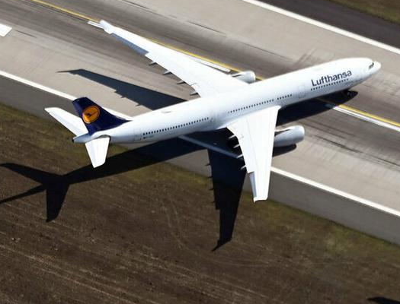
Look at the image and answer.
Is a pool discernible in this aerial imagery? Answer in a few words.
No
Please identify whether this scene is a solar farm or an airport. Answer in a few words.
airport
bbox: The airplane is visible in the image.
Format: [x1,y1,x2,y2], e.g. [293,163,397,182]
[45,20,380,203]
